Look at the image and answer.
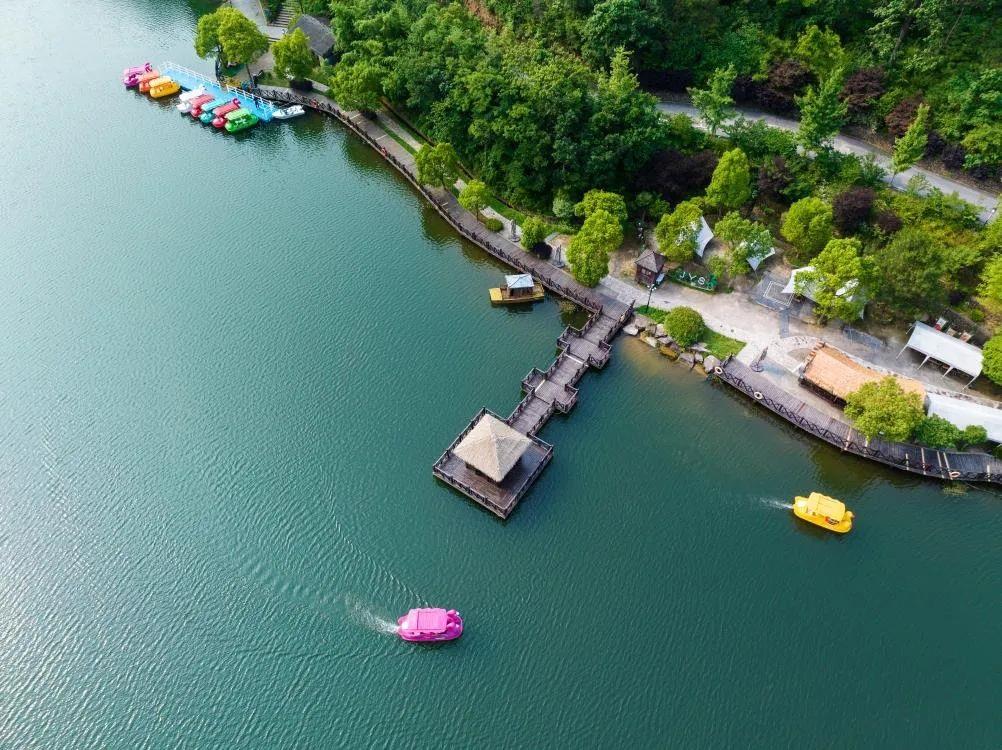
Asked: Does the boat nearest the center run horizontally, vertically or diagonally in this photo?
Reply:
horizontally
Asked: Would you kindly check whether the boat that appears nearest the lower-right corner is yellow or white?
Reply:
yellow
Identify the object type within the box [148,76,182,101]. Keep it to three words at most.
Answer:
boat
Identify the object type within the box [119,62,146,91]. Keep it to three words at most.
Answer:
boat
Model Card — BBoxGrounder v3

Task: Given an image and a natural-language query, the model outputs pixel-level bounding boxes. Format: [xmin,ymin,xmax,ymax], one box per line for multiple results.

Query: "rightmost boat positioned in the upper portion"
[488,276,546,305]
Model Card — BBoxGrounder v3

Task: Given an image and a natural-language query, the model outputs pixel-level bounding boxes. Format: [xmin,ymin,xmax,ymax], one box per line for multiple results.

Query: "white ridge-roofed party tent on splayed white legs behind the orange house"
[897,320,982,392]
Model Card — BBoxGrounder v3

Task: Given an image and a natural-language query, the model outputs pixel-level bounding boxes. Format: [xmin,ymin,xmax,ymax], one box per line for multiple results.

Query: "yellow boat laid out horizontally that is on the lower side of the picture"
[793,495,860,534]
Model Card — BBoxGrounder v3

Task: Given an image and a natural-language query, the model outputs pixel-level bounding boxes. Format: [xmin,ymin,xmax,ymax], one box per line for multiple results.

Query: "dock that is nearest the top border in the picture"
[159,59,275,123]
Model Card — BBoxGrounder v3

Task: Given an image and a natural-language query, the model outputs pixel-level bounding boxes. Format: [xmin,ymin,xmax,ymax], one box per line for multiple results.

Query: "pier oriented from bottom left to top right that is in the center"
[434,299,635,520]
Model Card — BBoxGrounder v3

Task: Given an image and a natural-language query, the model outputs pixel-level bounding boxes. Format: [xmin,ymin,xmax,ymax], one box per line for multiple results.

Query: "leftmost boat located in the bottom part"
[396,608,465,645]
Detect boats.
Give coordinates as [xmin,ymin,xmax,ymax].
[200,98,226,124]
[148,76,182,101]
[211,96,240,127]
[226,107,258,133]
[188,93,215,118]
[175,82,202,113]
[134,70,163,95]
[793,495,860,534]
[119,62,146,91]
[488,276,546,305]
[396,608,465,645]
[268,102,307,121]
